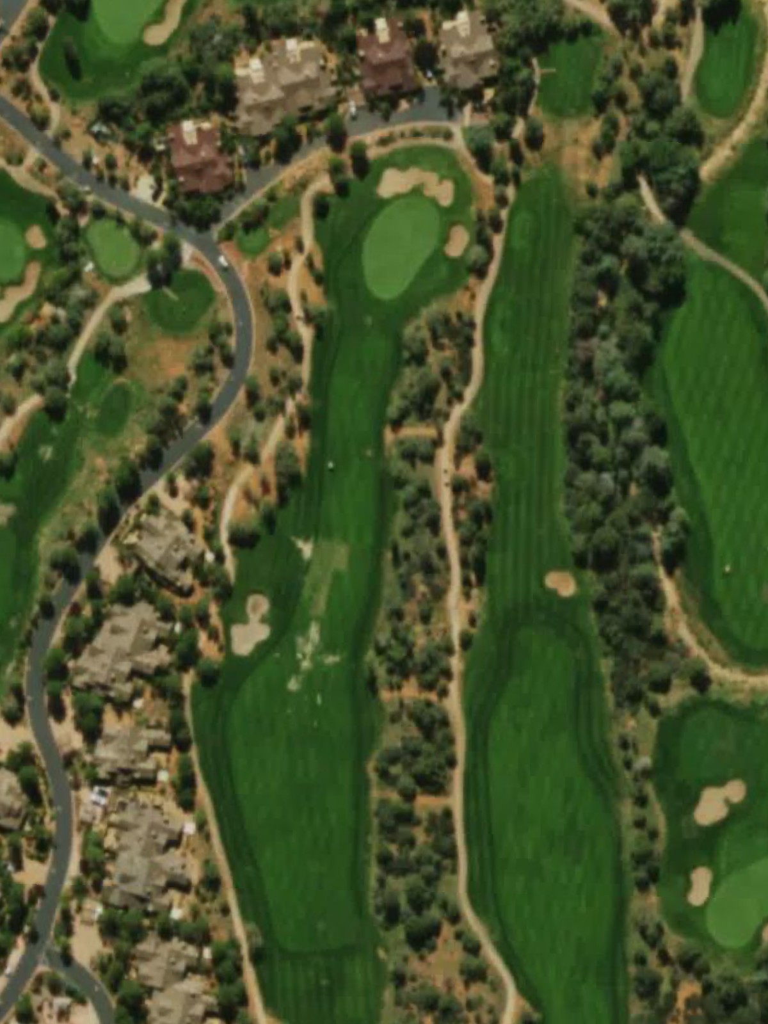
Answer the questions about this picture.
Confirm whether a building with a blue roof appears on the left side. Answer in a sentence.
No, there is no building with a blue roof on the left side.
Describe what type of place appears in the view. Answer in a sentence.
This looks like a golf course.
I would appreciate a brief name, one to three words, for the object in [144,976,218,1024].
house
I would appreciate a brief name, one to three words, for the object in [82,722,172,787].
house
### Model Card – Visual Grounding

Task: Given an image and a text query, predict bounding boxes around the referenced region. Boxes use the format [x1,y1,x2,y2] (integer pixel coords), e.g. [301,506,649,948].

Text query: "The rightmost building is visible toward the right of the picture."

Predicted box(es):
[438,6,502,89]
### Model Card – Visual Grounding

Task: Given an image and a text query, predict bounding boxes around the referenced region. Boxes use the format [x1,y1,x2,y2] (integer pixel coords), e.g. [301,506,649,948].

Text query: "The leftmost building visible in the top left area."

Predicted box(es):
[156,118,235,195]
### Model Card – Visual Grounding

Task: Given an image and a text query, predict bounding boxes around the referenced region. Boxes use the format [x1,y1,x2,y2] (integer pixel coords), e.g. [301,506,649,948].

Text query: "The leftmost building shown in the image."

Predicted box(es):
[0,767,28,831]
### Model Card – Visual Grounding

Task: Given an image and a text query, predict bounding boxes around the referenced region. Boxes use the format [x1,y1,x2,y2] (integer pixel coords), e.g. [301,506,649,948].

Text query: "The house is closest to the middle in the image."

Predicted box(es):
[126,509,205,590]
